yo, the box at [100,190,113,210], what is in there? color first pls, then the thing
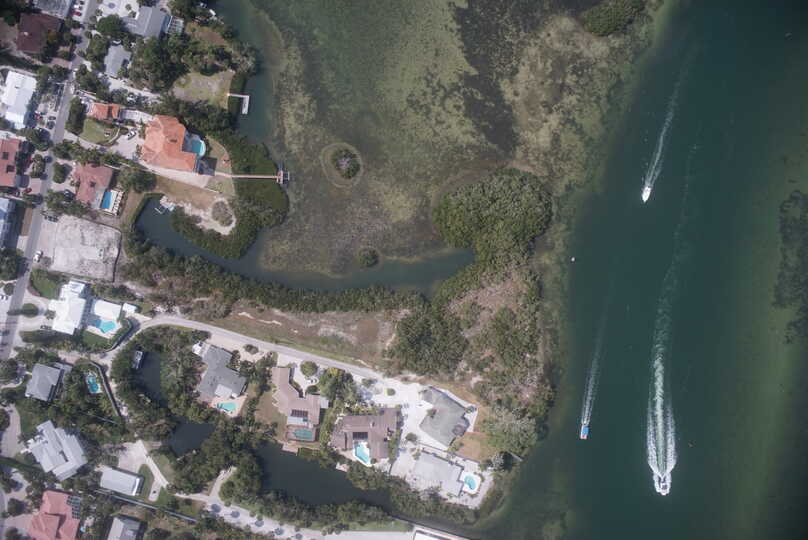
blue swimming pool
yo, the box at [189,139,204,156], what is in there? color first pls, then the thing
blue swimming pool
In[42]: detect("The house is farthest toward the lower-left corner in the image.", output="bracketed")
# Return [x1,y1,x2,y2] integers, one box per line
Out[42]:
[28,489,84,540]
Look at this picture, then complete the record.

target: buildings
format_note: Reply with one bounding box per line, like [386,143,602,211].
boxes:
[28,489,84,540]
[100,467,142,496]
[0,71,38,127]
[421,388,469,446]
[121,6,166,38]
[200,345,247,397]
[413,452,464,497]
[109,516,142,540]
[33,0,77,19]
[0,197,16,246]
[95,300,123,320]
[84,103,121,122]
[142,115,197,171]
[76,163,114,205]
[0,138,23,187]
[17,13,62,57]
[48,281,89,335]
[271,367,320,425]
[331,407,398,458]
[24,363,62,401]
[105,46,131,78]
[26,420,90,480]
